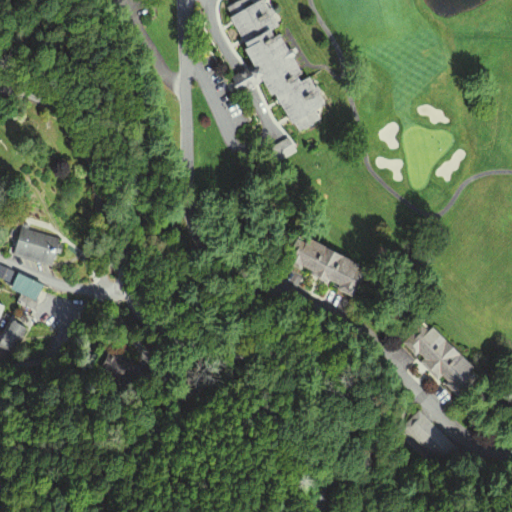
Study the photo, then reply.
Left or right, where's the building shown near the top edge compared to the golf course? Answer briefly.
to the left of it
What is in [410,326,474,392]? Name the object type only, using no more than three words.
house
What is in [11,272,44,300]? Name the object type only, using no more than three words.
building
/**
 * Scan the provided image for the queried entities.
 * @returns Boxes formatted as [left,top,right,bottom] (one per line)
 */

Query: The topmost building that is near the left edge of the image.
[13,226,62,262]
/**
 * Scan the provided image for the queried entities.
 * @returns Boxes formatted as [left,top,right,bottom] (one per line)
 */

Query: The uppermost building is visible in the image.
[222,0,326,132]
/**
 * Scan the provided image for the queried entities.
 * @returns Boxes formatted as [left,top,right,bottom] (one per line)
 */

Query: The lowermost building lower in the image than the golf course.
[405,412,461,464]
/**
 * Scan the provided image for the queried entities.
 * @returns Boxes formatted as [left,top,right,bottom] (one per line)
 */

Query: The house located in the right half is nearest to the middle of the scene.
[294,240,364,298]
